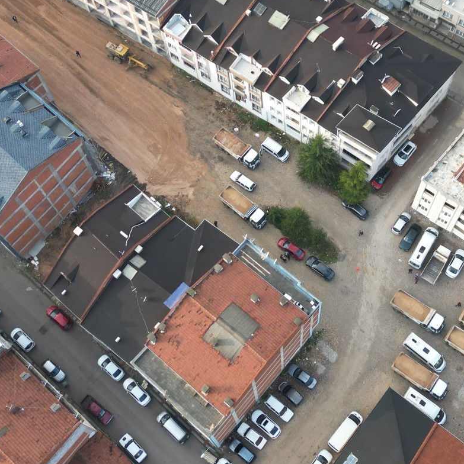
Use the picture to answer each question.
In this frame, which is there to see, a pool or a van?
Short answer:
van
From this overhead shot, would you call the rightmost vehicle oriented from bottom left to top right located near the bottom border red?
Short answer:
No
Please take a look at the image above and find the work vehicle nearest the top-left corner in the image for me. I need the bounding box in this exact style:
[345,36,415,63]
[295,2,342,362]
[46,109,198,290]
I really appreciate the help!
[105,40,152,73]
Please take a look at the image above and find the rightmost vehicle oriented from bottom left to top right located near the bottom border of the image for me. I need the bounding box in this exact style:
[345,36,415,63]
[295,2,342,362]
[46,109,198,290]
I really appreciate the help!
[326,408,365,452]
